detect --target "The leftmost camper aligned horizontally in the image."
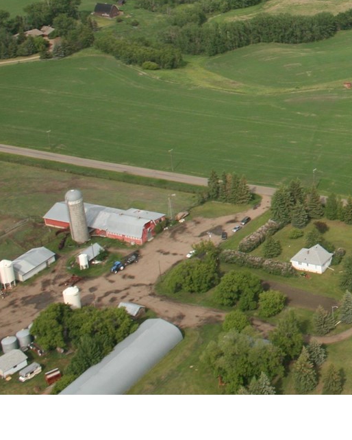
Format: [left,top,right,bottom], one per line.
[17,363,41,377]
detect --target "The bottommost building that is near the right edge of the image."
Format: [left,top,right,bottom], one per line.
[289,242,337,273]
